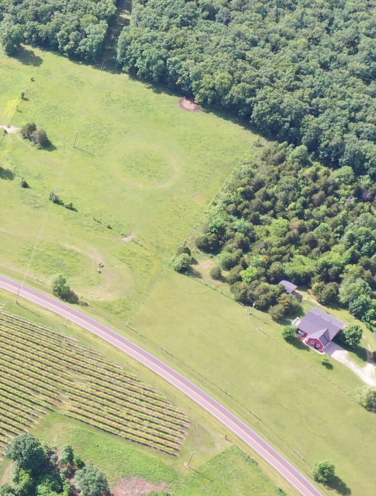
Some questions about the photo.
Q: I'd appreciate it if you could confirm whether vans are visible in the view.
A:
No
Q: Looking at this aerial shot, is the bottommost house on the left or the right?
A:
right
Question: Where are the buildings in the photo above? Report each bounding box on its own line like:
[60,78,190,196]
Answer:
[293,308,347,351]
[278,280,305,297]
